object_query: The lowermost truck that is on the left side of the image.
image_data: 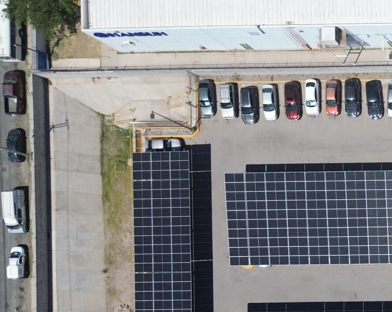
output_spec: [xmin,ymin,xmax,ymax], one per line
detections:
[6,245,29,279]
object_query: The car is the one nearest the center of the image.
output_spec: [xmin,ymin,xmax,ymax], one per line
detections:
[144,134,182,151]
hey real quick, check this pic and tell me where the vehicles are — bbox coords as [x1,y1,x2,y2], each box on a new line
[6,245,29,279]
[259,84,279,120]
[342,78,362,118]
[385,81,392,118]
[364,80,384,120]
[217,83,238,119]
[321,79,341,117]
[1,188,30,233]
[301,78,320,115]
[144,134,182,151]
[1,70,24,114]
[281,81,302,121]
[196,80,217,117]
[238,87,259,124]
[4,129,27,162]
